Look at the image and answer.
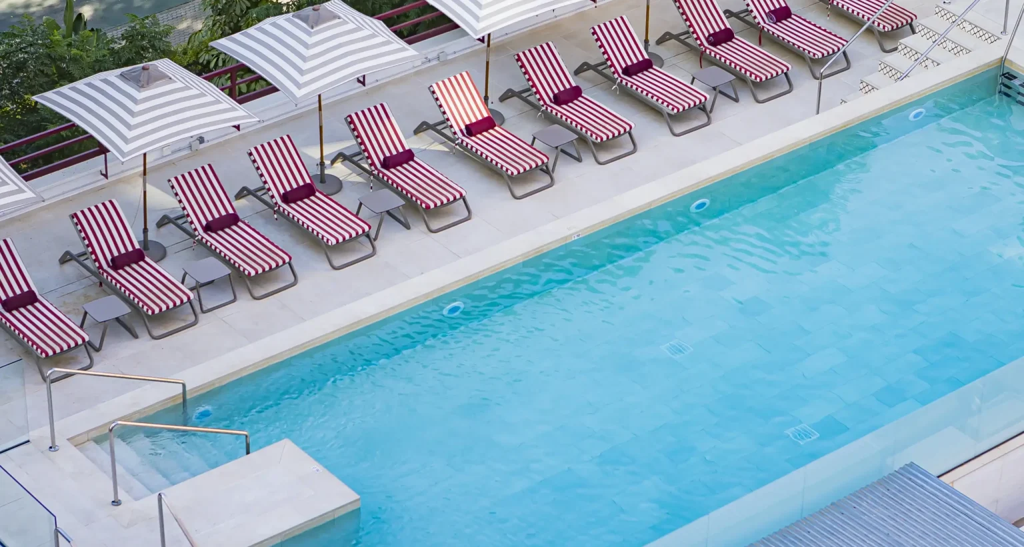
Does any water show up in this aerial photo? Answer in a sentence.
Yes, water can be seen from above here.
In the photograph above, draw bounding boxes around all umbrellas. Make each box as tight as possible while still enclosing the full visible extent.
[0,154,47,207]
[641,0,668,67]
[35,61,256,261]
[422,0,577,128]
[212,0,422,193]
